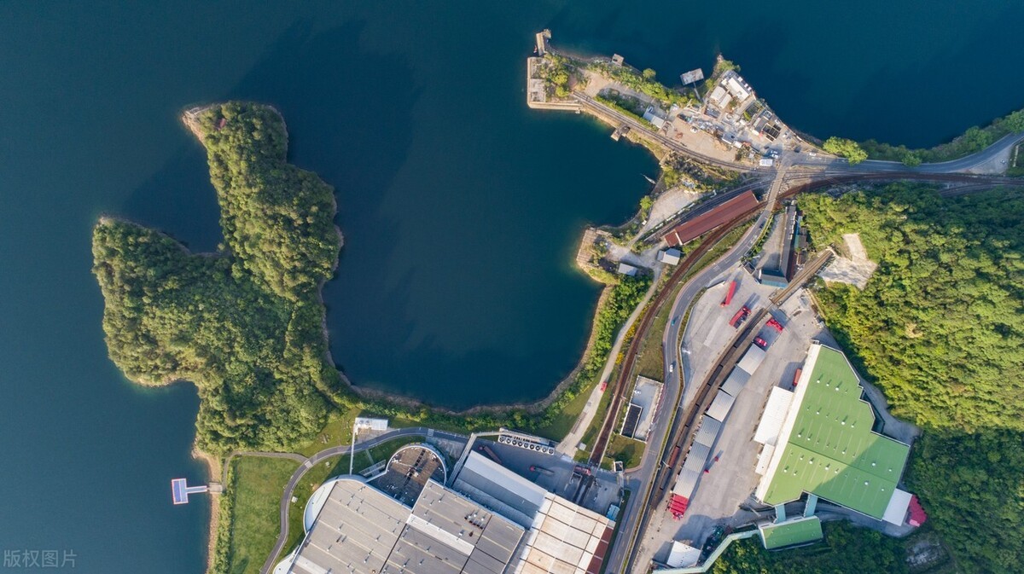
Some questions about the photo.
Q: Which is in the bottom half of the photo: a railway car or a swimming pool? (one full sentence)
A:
There is a railway car in the bottom half of the photo.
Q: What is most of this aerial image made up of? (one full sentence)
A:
For the most part, this view shows water.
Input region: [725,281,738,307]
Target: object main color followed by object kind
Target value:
red vehicle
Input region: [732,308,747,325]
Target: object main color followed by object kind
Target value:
red vehicle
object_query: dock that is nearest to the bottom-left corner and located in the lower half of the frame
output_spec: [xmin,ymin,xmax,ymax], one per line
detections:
[171,478,208,505]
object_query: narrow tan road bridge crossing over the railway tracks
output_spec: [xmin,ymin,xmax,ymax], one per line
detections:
[761,155,794,217]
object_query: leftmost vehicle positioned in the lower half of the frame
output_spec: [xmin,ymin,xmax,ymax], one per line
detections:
[480,443,502,464]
